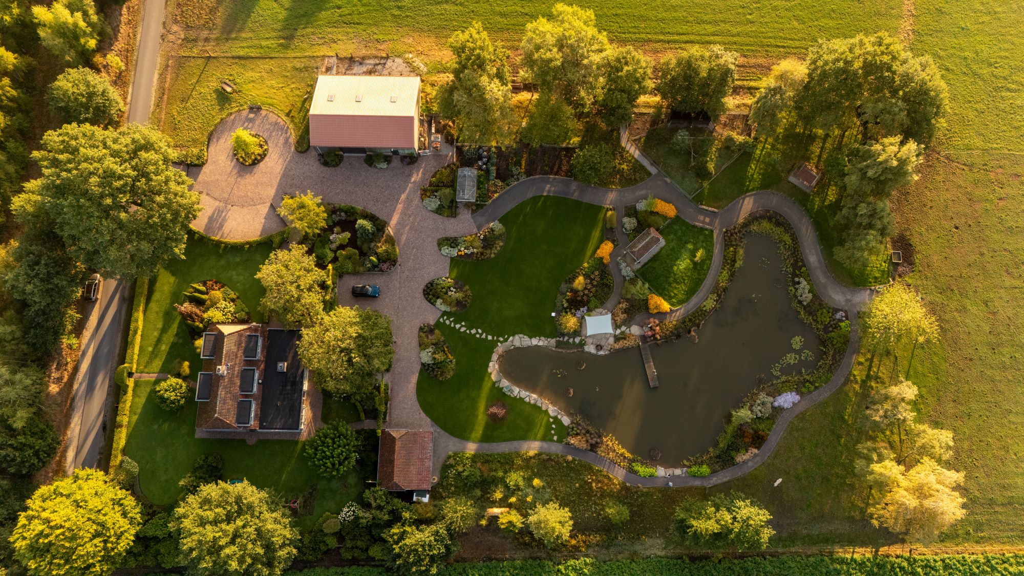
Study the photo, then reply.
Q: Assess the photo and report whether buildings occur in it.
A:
Yes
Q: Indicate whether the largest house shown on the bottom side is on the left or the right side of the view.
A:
left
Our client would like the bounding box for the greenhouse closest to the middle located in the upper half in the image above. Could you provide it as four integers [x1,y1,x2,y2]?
[457,166,477,206]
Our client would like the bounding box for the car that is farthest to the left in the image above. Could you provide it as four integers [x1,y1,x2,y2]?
[81,274,106,304]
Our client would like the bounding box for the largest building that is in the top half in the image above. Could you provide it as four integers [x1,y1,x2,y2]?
[308,75,420,158]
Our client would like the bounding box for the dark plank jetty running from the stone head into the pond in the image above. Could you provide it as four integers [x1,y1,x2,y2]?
[641,338,659,386]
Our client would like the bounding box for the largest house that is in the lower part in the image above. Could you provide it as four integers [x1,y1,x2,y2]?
[194,327,309,433]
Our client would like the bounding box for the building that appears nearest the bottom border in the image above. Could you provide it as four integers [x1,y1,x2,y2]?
[377,429,435,489]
